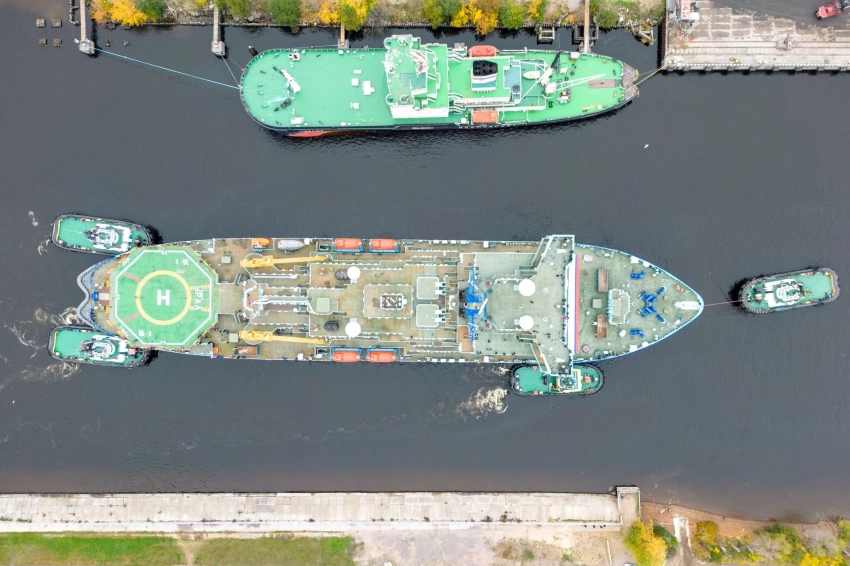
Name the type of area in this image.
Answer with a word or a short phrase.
port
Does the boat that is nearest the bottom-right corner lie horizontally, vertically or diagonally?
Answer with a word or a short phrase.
horizontally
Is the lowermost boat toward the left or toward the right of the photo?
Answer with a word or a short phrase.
right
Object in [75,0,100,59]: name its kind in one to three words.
pier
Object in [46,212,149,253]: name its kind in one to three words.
boat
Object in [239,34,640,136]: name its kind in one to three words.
ship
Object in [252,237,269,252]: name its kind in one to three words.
boat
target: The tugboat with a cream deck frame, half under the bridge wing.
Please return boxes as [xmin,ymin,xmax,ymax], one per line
[512,365,606,398]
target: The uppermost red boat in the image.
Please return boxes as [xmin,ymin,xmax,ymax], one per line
[468,43,498,56]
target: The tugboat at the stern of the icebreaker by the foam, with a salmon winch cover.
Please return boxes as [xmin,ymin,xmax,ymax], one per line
[42,327,144,368]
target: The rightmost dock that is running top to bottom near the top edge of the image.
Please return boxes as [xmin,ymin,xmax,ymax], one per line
[574,0,596,52]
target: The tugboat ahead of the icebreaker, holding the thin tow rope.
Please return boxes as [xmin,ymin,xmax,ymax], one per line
[743,267,846,311]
